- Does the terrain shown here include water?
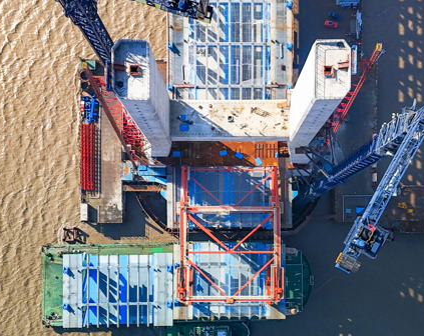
Yes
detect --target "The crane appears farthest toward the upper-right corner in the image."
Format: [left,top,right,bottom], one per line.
[325,42,384,141]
